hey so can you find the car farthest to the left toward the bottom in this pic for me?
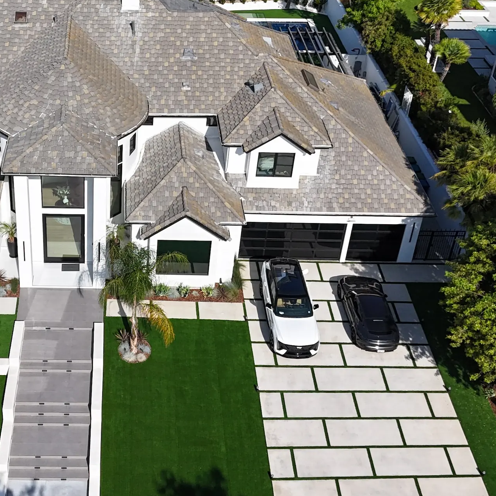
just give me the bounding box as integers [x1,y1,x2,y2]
[261,261,322,353]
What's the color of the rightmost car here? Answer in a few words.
black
